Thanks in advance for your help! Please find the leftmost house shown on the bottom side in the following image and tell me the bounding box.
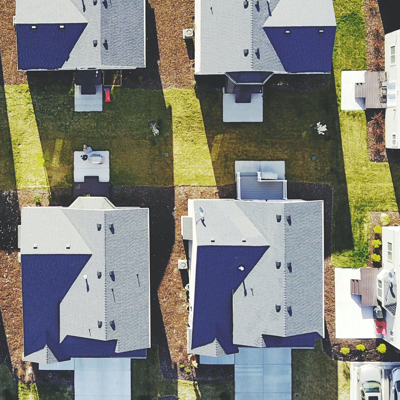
[17,194,151,364]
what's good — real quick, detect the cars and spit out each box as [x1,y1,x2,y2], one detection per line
[356,362,383,400]
[387,365,400,400]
